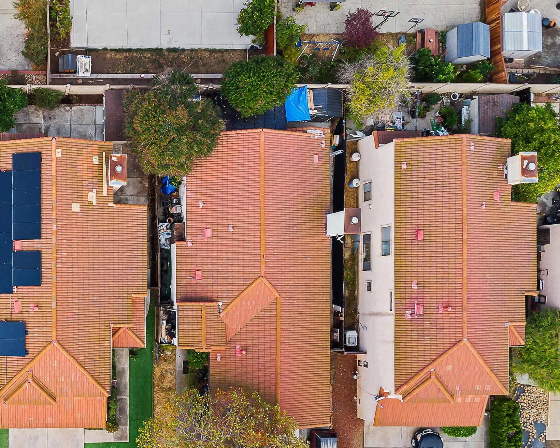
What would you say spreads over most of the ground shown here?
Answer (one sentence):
For the most part, this view shows buildings.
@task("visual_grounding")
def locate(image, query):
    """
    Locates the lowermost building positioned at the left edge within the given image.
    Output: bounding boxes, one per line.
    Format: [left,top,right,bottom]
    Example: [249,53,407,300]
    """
[0,132,148,430]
